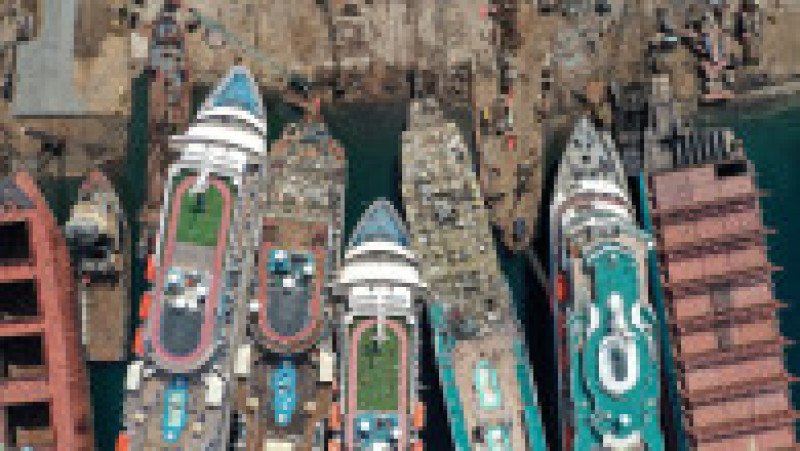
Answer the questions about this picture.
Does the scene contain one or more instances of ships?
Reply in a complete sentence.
Yes, the image includes a ship.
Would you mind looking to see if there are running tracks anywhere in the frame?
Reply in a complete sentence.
Yes, there's a running track down there.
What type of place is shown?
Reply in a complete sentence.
This looks like a parking lot.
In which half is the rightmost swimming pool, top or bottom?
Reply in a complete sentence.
The rightmost swimming pool is in the bottom half of the image.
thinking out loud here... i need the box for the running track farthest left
[155,172,234,359]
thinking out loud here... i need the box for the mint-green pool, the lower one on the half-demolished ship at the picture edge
[482,424,510,451]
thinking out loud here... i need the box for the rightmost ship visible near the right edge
[628,114,800,451]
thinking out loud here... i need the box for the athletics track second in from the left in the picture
[261,242,323,343]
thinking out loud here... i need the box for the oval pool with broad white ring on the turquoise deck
[600,331,638,395]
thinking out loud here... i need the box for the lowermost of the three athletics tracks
[347,321,408,451]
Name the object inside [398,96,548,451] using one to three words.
ship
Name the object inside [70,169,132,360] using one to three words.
vessel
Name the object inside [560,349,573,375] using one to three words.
boat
